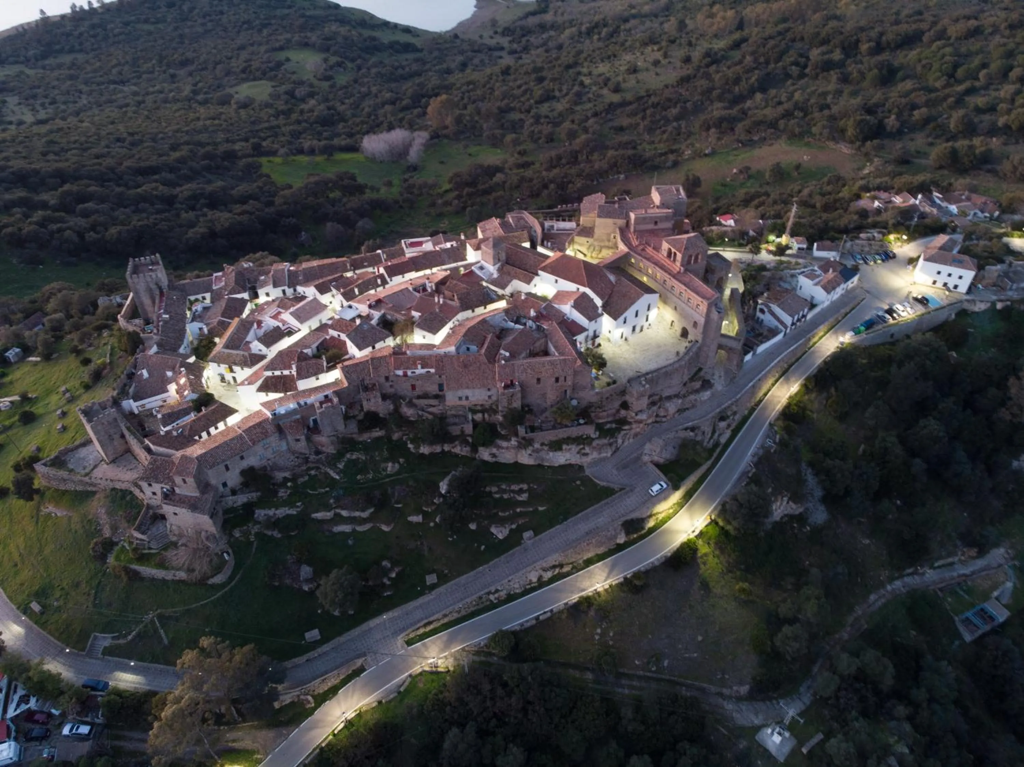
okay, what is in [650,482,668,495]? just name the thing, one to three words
vehicle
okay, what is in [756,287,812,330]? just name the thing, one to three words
house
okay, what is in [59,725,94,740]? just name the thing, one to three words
car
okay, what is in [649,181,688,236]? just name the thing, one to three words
building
